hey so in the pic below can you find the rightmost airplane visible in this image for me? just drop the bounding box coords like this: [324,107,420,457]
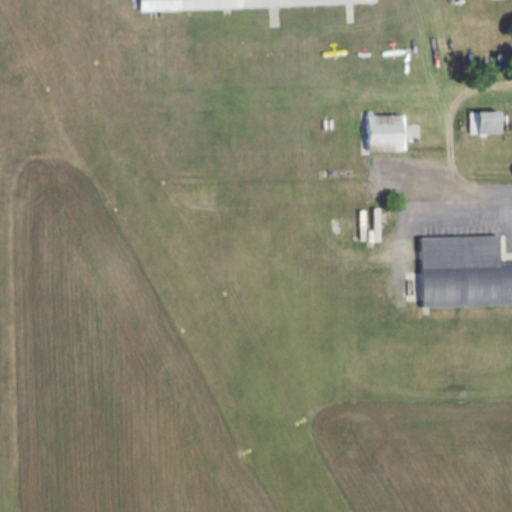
[384,44,406,60]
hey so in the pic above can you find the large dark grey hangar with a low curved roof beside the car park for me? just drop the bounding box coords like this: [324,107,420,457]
[421,238,512,306]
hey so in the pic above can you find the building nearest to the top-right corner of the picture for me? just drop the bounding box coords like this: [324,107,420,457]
[469,112,504,138]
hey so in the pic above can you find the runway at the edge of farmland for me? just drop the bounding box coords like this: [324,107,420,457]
[47,64,300,454]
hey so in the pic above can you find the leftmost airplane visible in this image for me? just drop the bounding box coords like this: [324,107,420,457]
[324,44,347,60]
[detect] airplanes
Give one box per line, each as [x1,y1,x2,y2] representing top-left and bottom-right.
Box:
[324,44,347,60]
[358,48,371,58]
[384,44,406,60]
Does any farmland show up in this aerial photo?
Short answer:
Yes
